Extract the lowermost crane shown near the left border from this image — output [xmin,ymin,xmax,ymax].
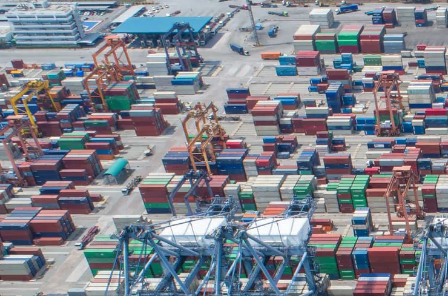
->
[0,120,38,185]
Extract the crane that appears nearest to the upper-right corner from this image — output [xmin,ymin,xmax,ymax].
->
[370,76,405,135]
